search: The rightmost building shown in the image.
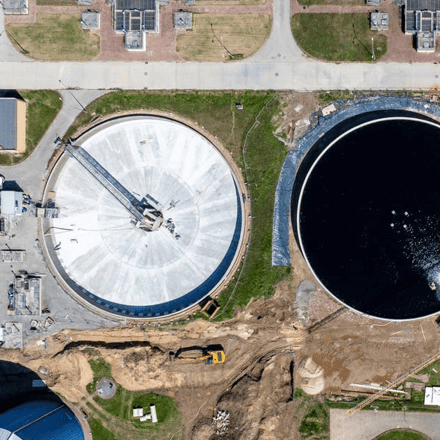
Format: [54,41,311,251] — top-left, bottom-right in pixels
[415,30,434,53]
